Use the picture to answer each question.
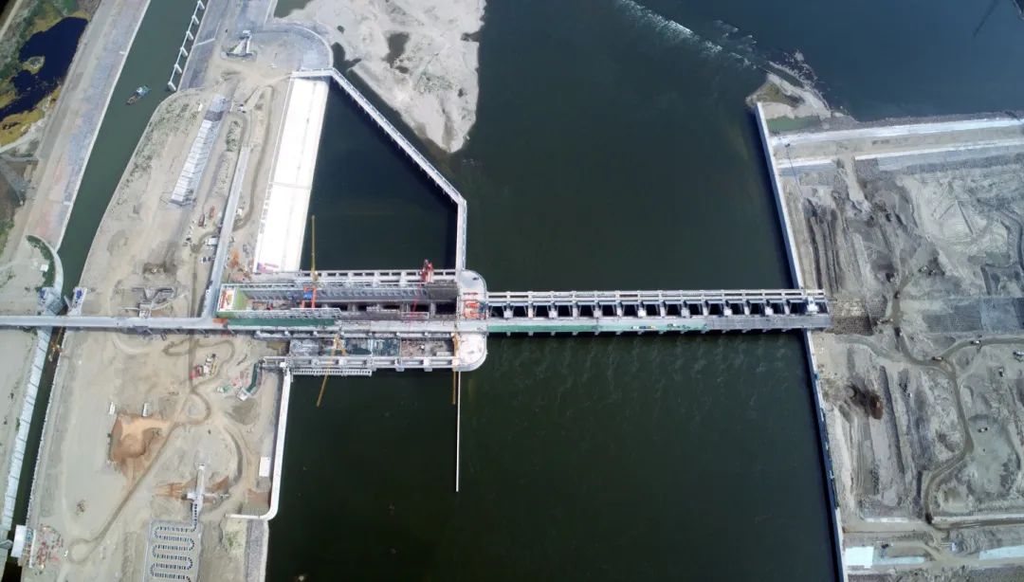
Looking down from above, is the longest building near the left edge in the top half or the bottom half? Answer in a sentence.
Seen from above, the longest building near the left edge lies in the bottom half of the view.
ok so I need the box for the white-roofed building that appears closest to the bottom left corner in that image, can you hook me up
[9,525,34,559]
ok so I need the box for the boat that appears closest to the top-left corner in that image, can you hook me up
[126,85,148,102]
